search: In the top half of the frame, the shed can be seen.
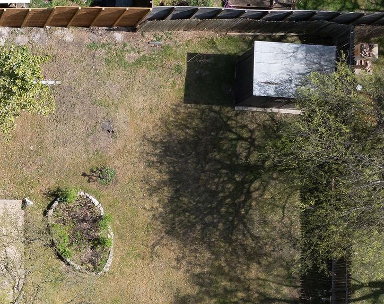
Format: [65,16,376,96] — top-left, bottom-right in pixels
[229,41,335,114]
